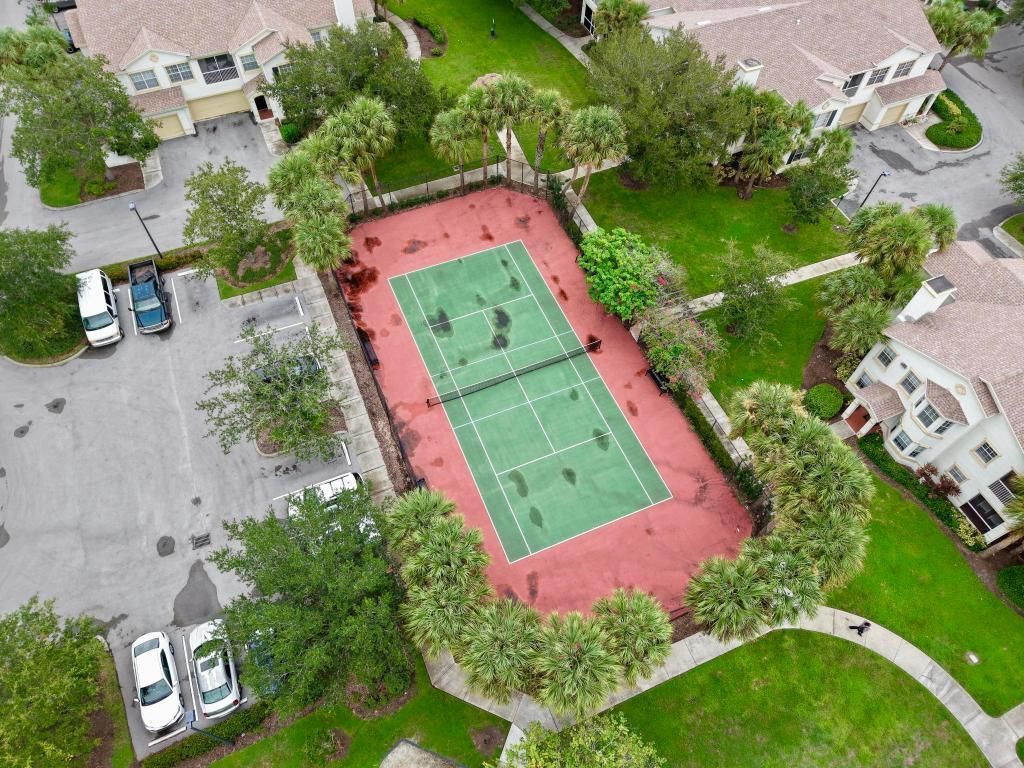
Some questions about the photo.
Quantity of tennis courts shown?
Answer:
1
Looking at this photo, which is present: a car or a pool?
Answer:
car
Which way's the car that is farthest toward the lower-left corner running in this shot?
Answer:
from top to bottom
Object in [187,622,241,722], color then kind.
white car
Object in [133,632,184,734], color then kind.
white car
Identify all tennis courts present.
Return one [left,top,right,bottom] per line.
[333,186,751,646]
